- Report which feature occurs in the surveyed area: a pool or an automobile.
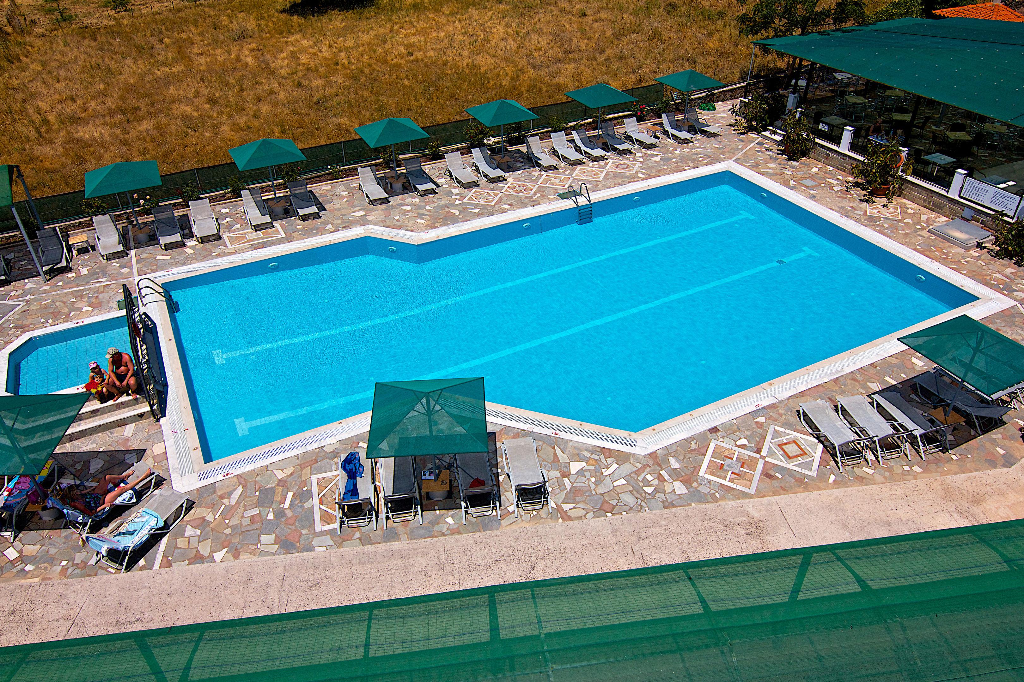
pool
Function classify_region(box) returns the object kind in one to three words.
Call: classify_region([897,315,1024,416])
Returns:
umbrella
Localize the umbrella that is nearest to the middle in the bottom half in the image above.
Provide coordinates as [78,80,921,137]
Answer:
[367,378,489,481]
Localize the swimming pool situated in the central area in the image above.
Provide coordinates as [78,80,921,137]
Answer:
[135,162,1017,495]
